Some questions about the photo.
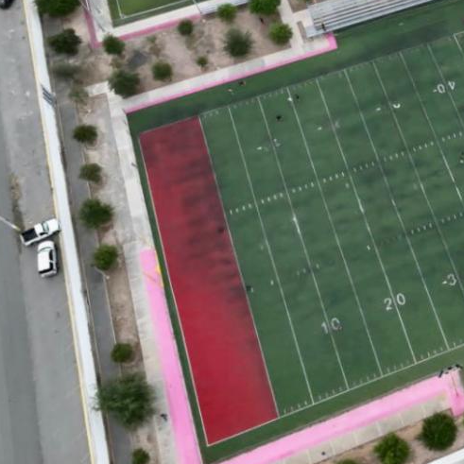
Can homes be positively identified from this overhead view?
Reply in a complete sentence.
No, no home is visible in the scene.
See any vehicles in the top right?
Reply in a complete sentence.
No, no vehicle is visible in the top right.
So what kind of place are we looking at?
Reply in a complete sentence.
It's a sports ground.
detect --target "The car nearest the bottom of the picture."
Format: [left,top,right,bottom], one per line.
[34,240,55,275]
